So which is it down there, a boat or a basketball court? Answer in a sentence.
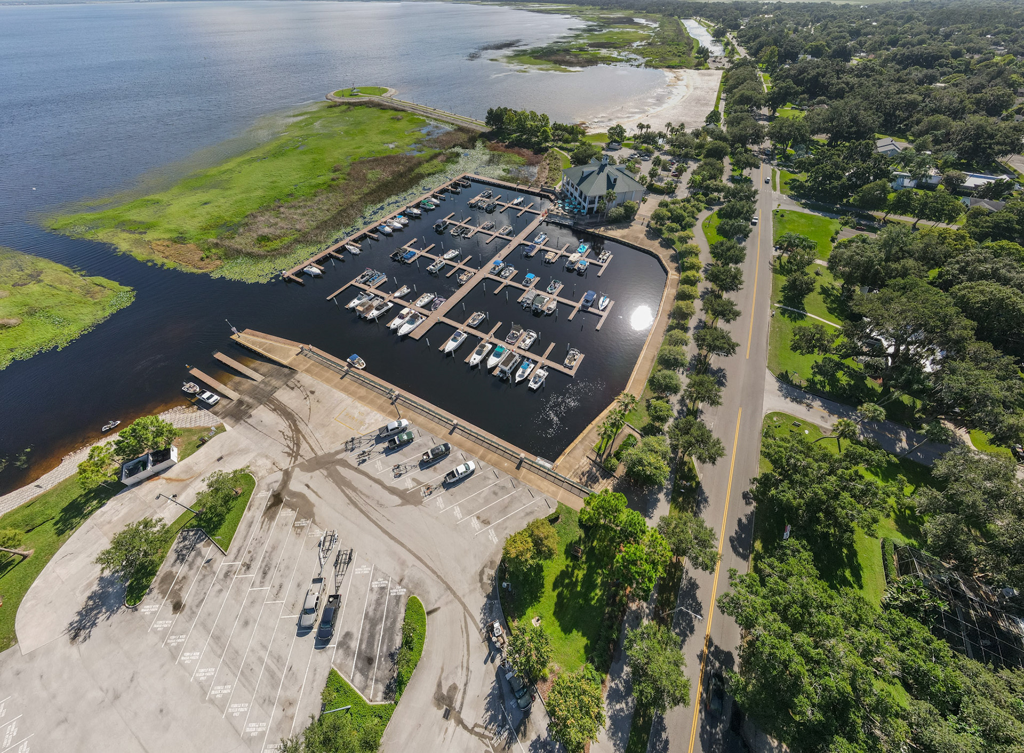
I can see a boat in this picture.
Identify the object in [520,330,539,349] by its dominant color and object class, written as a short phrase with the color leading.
white boat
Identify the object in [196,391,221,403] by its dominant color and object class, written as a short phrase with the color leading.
white vehicle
